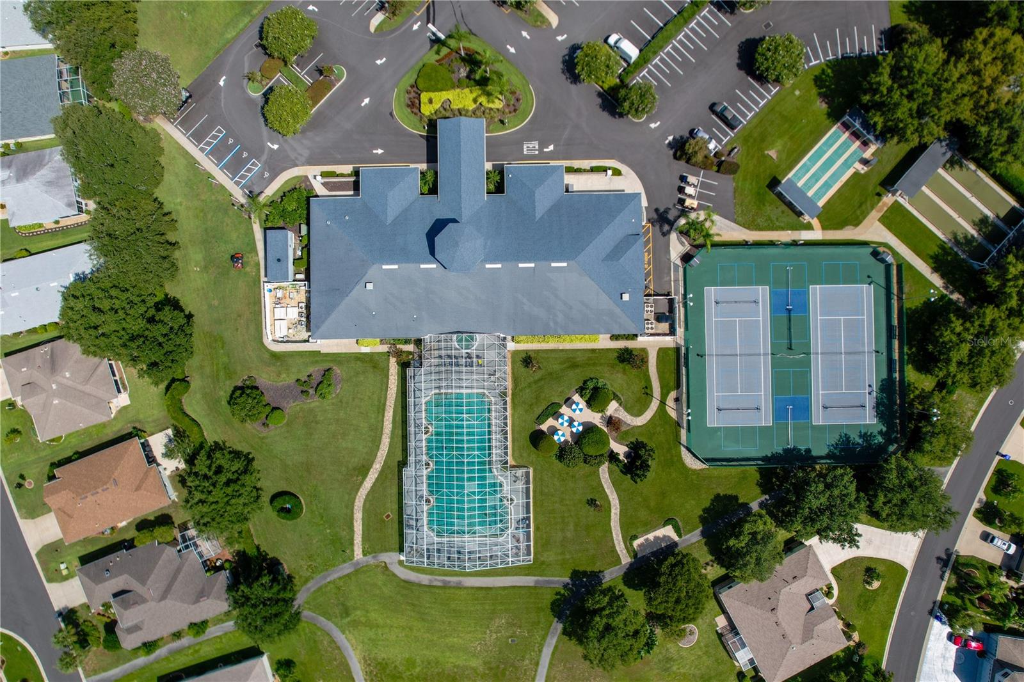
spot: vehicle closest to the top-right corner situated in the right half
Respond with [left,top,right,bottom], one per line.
[715,103,742,127]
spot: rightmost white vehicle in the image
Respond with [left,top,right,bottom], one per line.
[989,534,1019,552]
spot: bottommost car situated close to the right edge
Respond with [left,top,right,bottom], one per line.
[955,633,984,650]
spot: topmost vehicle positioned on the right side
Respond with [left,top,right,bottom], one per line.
[608,33,637,59]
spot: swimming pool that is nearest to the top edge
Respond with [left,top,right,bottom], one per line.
[69,68,85,104]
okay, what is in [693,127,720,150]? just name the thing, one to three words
car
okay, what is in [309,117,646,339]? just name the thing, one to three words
building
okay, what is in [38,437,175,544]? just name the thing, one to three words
house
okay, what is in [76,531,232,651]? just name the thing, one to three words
house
